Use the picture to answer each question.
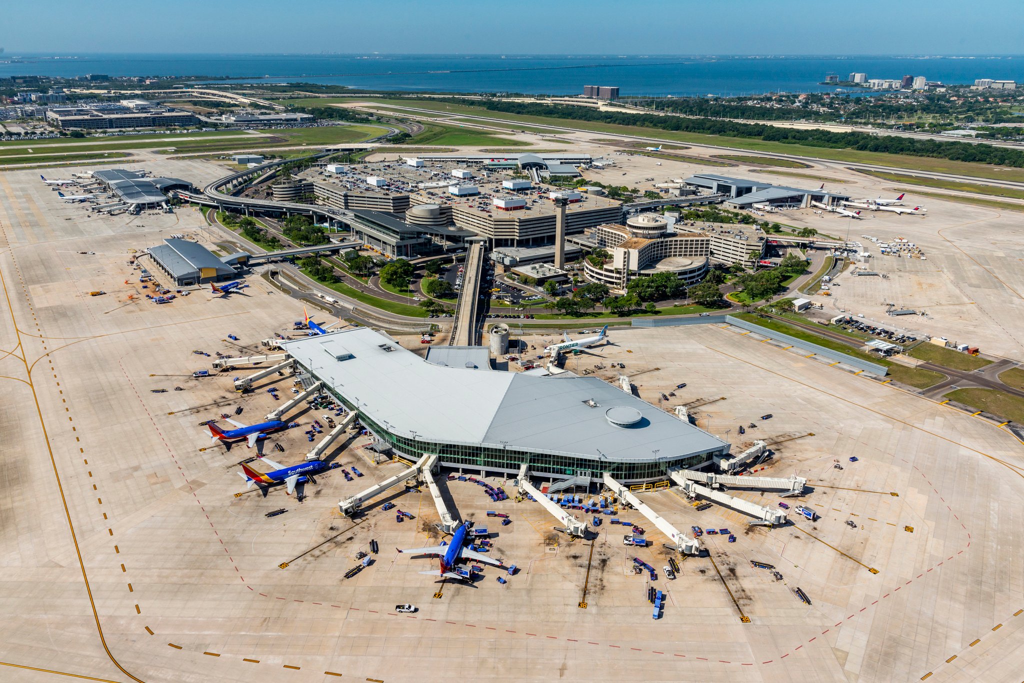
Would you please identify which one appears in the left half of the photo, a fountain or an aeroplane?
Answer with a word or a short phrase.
aeroplane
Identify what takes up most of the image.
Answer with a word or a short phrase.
paved ground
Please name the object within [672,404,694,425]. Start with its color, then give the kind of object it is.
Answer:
white jet bridge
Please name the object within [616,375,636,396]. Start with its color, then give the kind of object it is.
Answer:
white jet bridge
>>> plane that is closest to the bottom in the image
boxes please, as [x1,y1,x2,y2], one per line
[397,523,501,578]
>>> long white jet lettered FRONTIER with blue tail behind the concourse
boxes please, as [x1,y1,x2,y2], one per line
[545,325,613,354]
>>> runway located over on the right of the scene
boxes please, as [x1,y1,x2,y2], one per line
[341,102,1024,188]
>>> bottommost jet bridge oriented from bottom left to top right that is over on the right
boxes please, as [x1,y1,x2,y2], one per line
[713,438,767,474]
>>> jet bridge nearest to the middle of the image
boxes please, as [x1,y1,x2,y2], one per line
[544,345,563,375]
